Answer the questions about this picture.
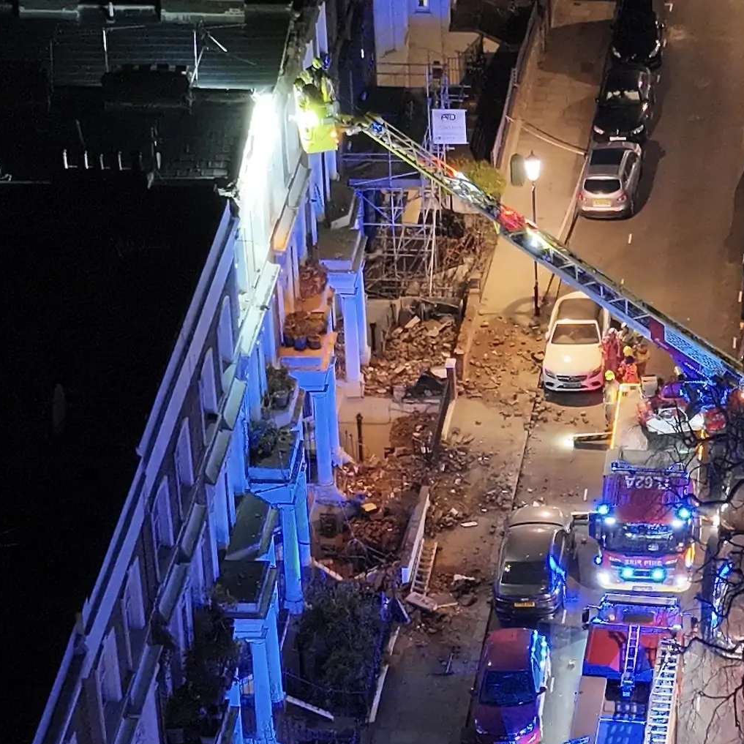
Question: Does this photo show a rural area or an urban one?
urban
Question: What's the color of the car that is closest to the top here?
black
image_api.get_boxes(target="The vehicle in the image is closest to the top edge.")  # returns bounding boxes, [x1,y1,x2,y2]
[608,0,668,58]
